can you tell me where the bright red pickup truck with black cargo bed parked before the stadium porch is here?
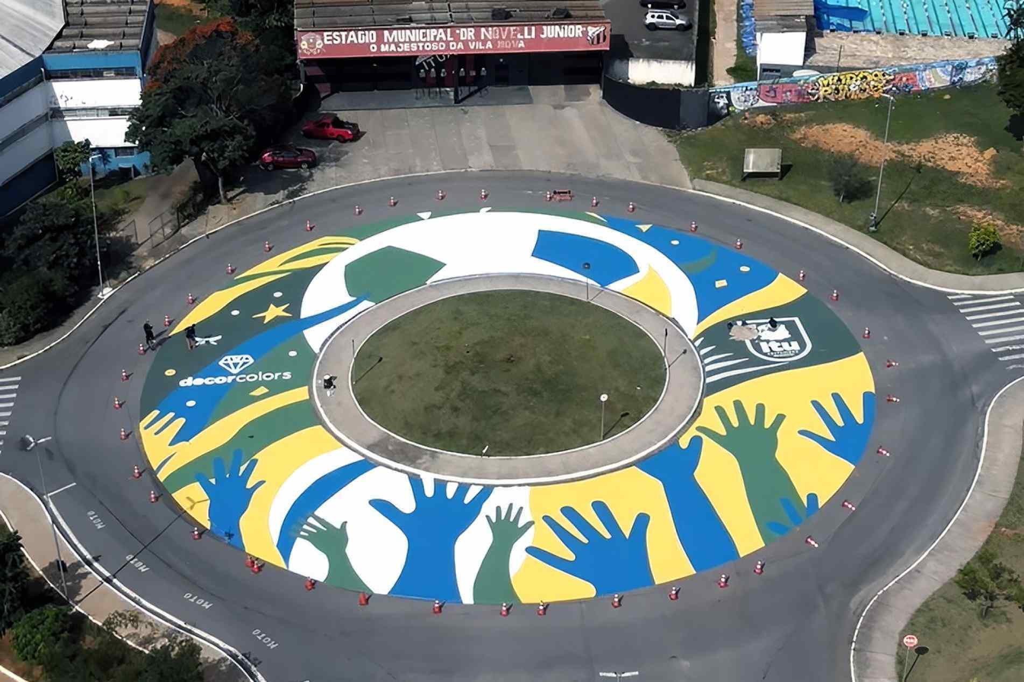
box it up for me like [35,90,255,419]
[302,114,358,140]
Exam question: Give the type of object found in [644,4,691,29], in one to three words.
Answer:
car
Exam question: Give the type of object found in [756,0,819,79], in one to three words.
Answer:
shed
